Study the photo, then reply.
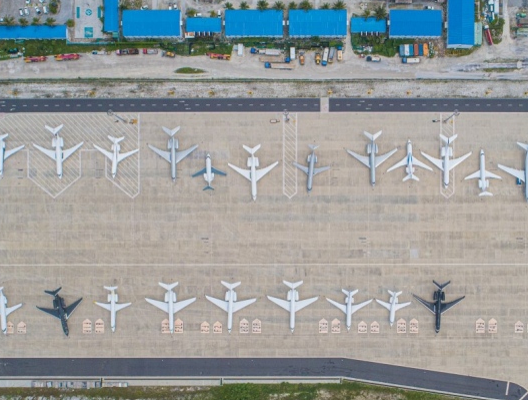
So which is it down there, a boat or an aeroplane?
aeroplane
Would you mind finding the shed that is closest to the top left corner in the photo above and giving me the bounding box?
[0,26,67,40]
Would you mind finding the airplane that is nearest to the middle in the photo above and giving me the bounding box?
[227,148,278,200]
